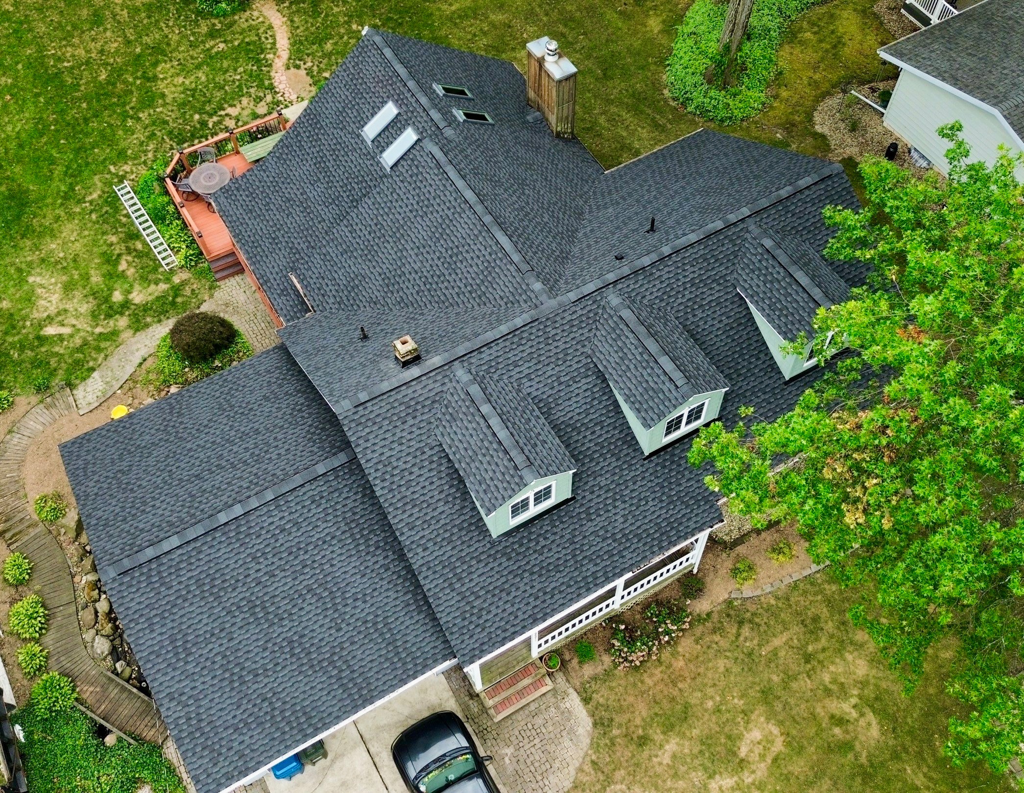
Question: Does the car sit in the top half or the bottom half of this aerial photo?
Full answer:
You can find the car in the bottom half.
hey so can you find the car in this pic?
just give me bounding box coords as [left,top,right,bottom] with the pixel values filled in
[395,715,496,793]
